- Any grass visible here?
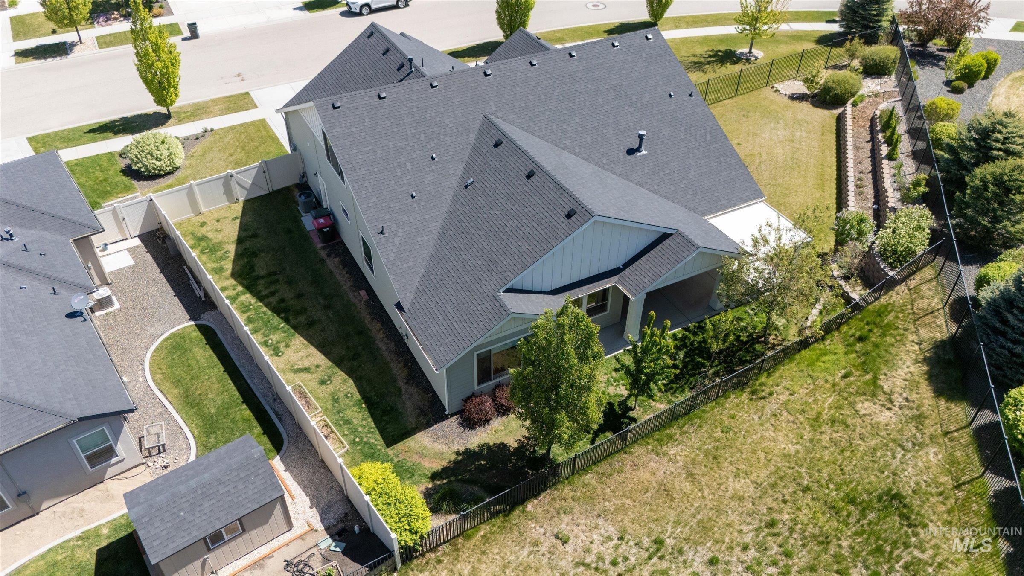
Yes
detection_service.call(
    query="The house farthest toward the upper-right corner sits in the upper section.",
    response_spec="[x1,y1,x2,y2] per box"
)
[273,21,768,418]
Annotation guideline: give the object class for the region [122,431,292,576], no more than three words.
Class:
shed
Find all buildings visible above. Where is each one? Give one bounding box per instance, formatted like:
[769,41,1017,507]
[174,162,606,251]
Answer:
[0,149,147,531]
[273,21,768,418]
[122,431,292,576]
